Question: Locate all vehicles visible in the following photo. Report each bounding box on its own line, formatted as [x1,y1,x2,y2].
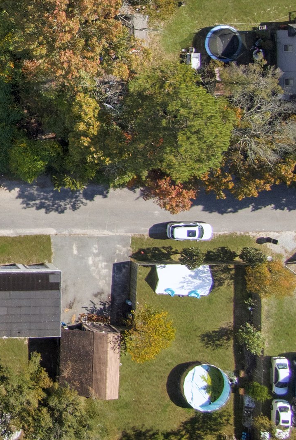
[289,356,296,398]
[270,398,294,439]
[268,355,292,396]
[165,221,211,242]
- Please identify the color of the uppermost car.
white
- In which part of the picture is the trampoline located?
top right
